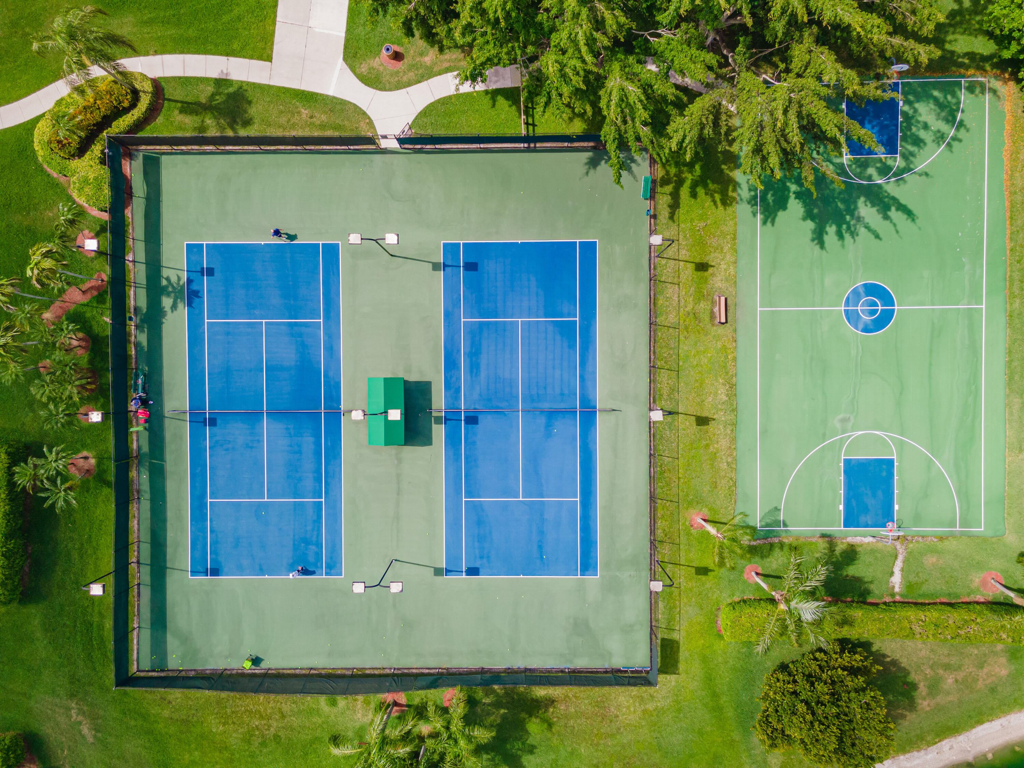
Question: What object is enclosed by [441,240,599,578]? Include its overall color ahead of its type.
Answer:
blue tennis court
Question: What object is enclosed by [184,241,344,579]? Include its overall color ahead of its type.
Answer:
blue tennis court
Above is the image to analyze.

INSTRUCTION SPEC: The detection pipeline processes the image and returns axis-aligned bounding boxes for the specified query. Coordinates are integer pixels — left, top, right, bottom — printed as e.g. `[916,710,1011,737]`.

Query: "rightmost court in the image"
[734,73,1006,539]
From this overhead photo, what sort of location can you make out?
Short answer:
sports ground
